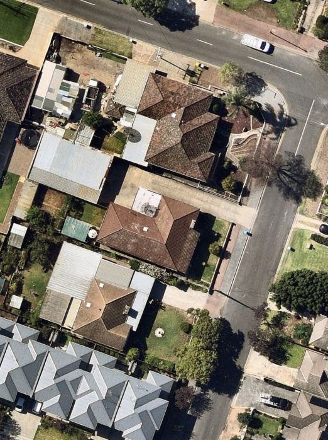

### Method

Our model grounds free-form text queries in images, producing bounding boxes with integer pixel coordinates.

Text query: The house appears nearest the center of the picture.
[96,188,201,274]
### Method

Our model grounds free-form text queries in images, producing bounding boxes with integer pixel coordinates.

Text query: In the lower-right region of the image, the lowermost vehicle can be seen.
[261,394,290,409]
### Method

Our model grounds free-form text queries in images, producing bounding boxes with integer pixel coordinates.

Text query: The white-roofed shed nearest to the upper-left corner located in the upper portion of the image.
[31,60,78,117]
